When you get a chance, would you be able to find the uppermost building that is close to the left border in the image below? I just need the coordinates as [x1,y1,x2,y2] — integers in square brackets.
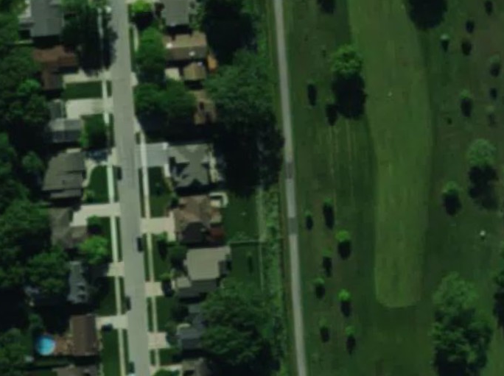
[18,0,64,39]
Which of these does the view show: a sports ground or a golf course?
golf course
